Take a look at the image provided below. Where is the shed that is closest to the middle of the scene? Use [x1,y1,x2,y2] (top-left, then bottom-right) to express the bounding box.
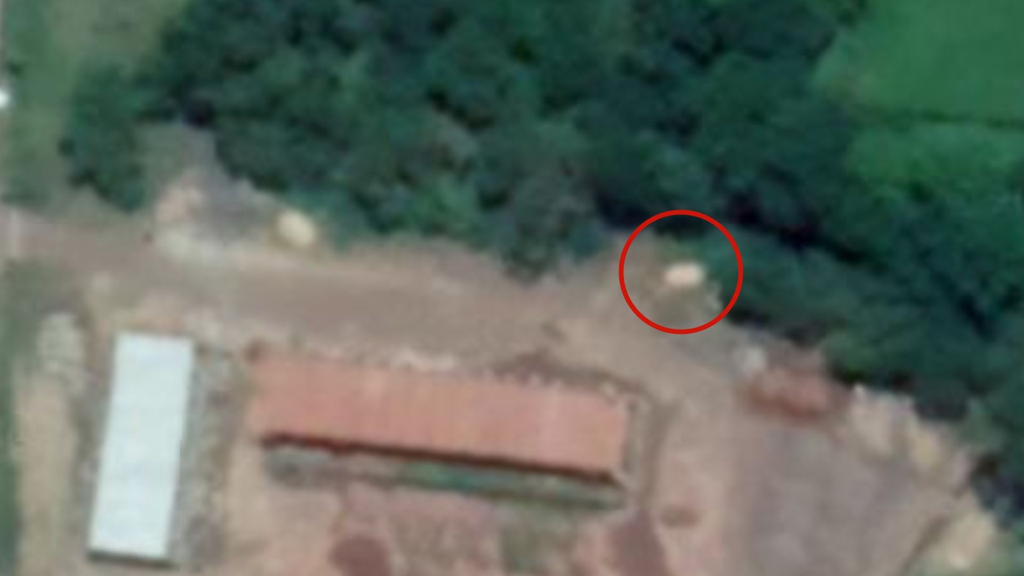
[250,356,633,503]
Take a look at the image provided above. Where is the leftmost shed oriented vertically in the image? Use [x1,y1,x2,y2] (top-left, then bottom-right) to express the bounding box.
[90,335,195,558]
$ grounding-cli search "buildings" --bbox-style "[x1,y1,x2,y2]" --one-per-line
[250,356,633,503]
[90,335,195,558]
